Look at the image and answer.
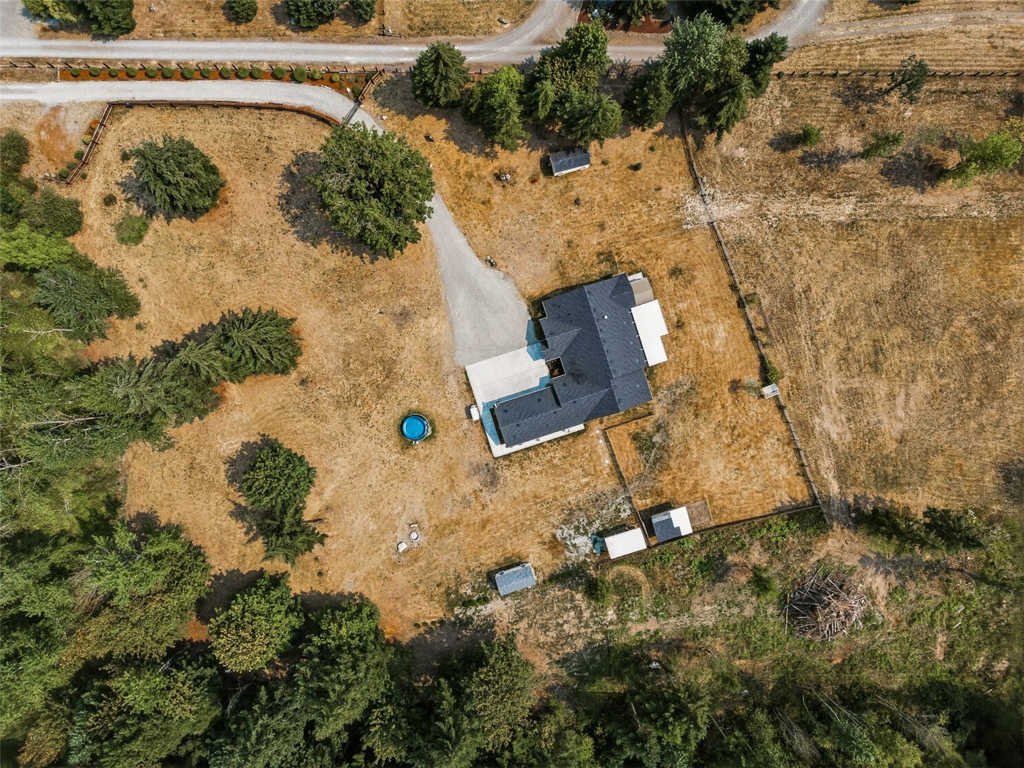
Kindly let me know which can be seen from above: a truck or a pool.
pool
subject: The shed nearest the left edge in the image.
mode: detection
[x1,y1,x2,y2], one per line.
[494,560,536,594]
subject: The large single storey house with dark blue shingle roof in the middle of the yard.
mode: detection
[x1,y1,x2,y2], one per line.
[495,272,653,448]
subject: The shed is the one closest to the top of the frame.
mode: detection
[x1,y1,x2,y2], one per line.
[551,146,593,178]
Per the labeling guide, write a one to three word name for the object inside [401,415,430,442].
swimming pool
